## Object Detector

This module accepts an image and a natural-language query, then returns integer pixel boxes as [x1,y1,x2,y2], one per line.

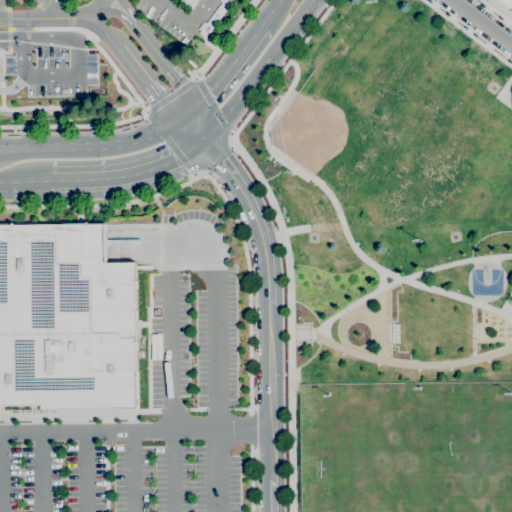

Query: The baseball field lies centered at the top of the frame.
[271,91,349,174]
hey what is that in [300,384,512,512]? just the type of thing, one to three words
soccer field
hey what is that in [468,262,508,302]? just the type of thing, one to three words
basketball court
